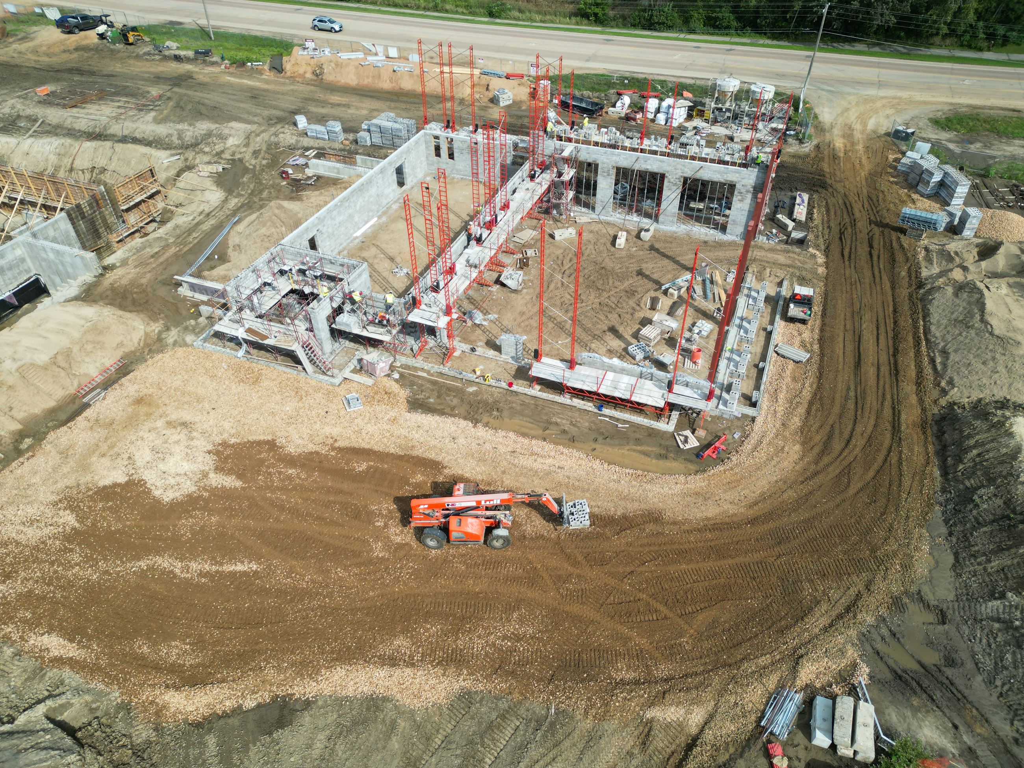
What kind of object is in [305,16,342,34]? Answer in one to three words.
car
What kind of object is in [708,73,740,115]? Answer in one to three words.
silo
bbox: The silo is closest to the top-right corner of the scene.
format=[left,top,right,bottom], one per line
[744,75,777,117]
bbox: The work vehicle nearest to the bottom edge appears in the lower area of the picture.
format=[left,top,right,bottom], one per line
[408,483,568,551]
